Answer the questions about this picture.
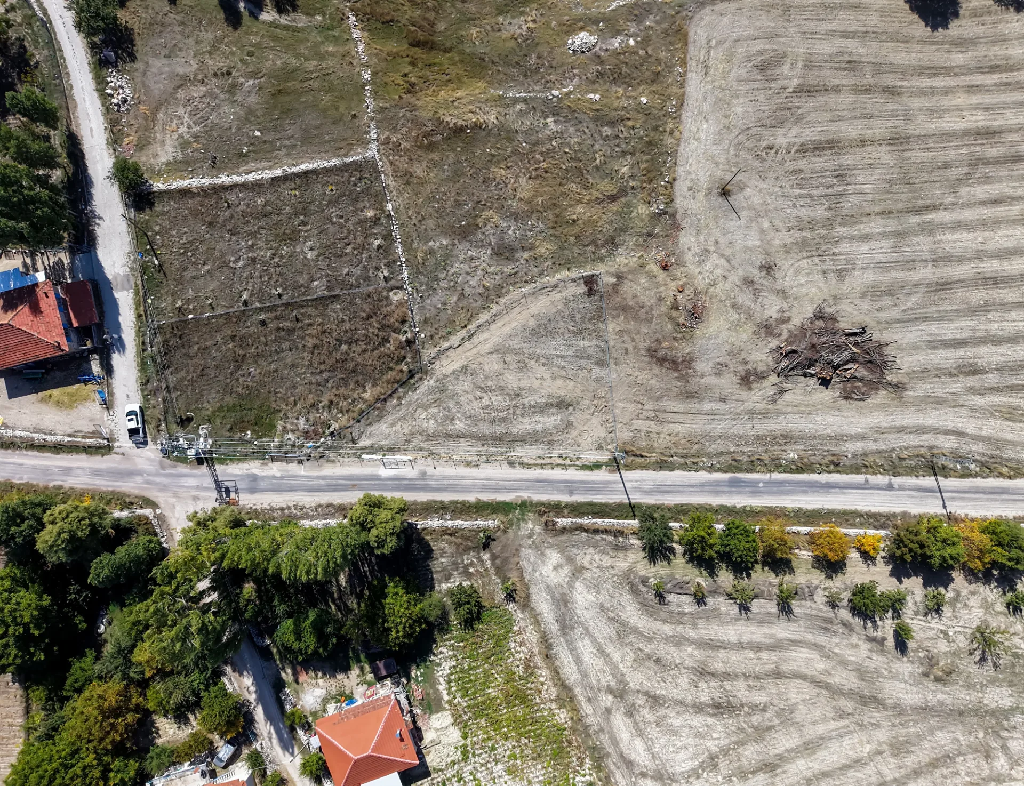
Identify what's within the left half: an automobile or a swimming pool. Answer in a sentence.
You can see an automobile within the left half.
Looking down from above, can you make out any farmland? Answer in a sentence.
Yes, there is farmland in the image.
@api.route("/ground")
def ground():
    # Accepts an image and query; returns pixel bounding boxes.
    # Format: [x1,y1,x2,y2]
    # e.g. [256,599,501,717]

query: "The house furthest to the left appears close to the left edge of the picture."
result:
[0,280,79,372]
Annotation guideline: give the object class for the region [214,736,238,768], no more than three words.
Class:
car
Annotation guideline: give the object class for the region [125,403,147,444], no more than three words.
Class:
truck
